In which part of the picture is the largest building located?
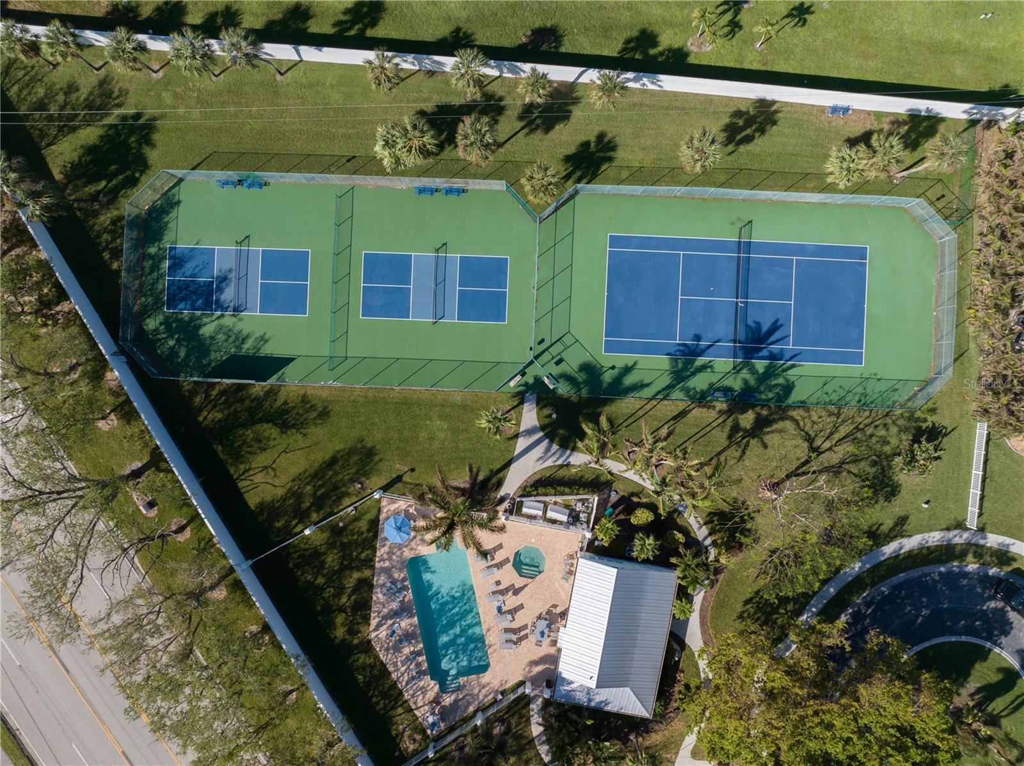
bottom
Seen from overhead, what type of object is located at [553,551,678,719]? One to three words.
building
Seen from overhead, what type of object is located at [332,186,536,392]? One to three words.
sports court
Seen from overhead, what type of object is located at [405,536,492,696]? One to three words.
swimming pool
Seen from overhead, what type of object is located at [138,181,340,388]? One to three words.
sports court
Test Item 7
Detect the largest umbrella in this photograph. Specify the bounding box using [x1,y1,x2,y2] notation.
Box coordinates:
[385,516,411,543]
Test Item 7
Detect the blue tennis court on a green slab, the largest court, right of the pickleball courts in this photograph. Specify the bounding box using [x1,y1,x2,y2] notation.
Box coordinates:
[532,193,936,408]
